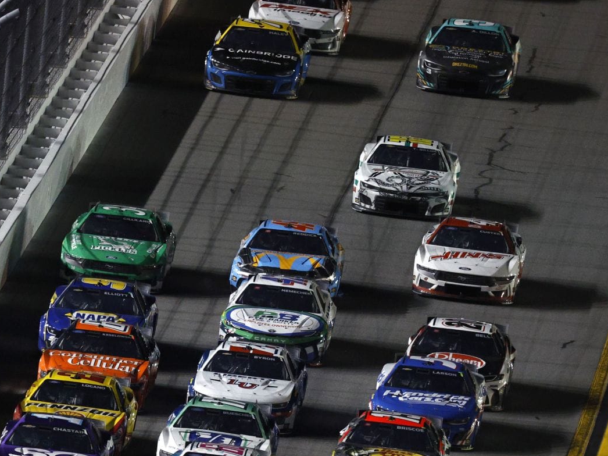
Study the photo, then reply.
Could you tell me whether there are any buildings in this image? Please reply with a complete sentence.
No, there is no building in the image.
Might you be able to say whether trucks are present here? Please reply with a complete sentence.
No, the picture doesn't show any truck.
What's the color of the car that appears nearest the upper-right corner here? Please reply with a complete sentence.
The car that appears nearest the upper-right corner looks black in the image.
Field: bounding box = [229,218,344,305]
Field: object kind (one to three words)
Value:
car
